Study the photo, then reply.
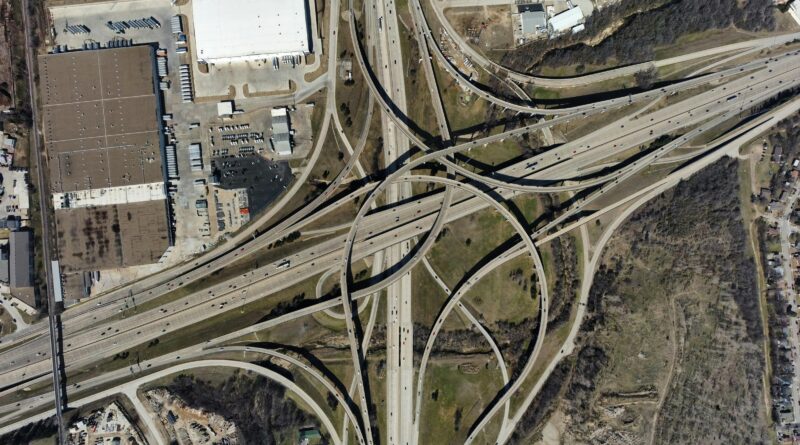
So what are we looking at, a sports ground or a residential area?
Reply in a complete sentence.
The picture captures a residential area.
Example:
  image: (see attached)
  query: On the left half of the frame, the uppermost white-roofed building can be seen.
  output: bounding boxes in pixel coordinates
[193,0,312,65]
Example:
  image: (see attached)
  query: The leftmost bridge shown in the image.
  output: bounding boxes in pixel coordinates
[48,315,63,418]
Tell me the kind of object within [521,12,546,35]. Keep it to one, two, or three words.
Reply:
building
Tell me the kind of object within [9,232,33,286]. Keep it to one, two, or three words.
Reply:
building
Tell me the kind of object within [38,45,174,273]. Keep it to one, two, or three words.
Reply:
warehouse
